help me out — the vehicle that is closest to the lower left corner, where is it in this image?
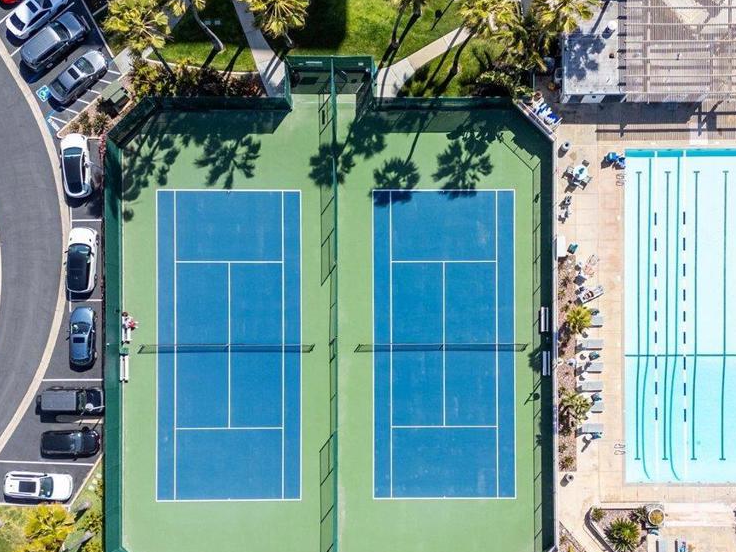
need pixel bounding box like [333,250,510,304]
[1,471,76,502]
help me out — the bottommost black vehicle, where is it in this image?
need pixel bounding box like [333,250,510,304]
[38,430,103,459]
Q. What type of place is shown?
sports ground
